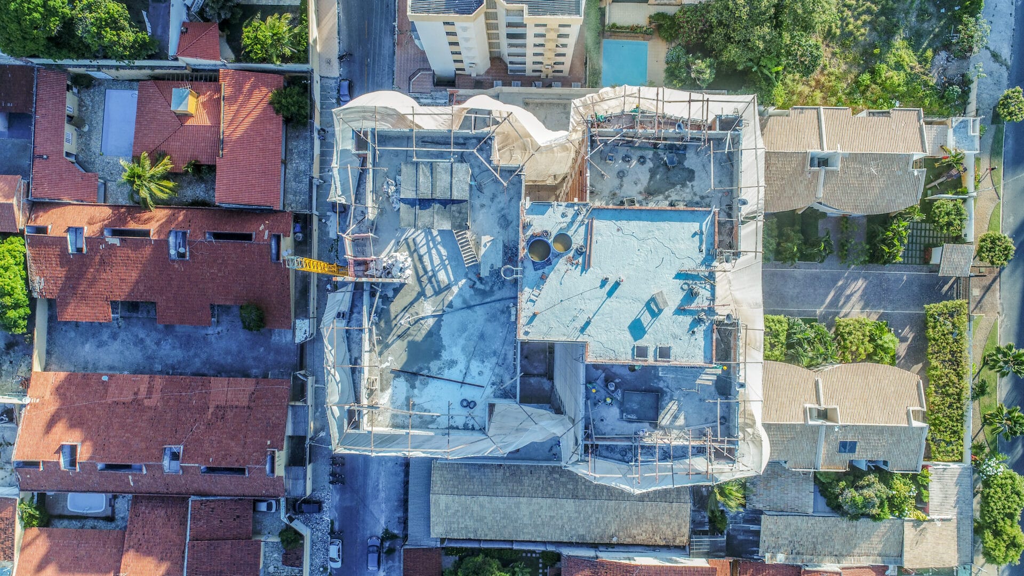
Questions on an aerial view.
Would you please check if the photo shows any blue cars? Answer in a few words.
Yes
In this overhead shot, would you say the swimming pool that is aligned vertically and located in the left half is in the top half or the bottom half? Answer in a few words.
top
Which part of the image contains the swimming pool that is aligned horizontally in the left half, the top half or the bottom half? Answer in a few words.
bottom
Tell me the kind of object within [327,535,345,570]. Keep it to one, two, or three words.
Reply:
car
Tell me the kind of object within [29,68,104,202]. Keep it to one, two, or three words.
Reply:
house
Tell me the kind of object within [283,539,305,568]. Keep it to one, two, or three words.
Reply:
shed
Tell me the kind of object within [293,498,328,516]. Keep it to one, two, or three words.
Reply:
car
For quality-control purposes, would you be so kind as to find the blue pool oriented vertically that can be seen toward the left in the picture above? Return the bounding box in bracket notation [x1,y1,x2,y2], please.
[100,88,138,158]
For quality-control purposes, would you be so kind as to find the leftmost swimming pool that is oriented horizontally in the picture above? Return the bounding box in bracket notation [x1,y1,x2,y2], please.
[65,493,109,514]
